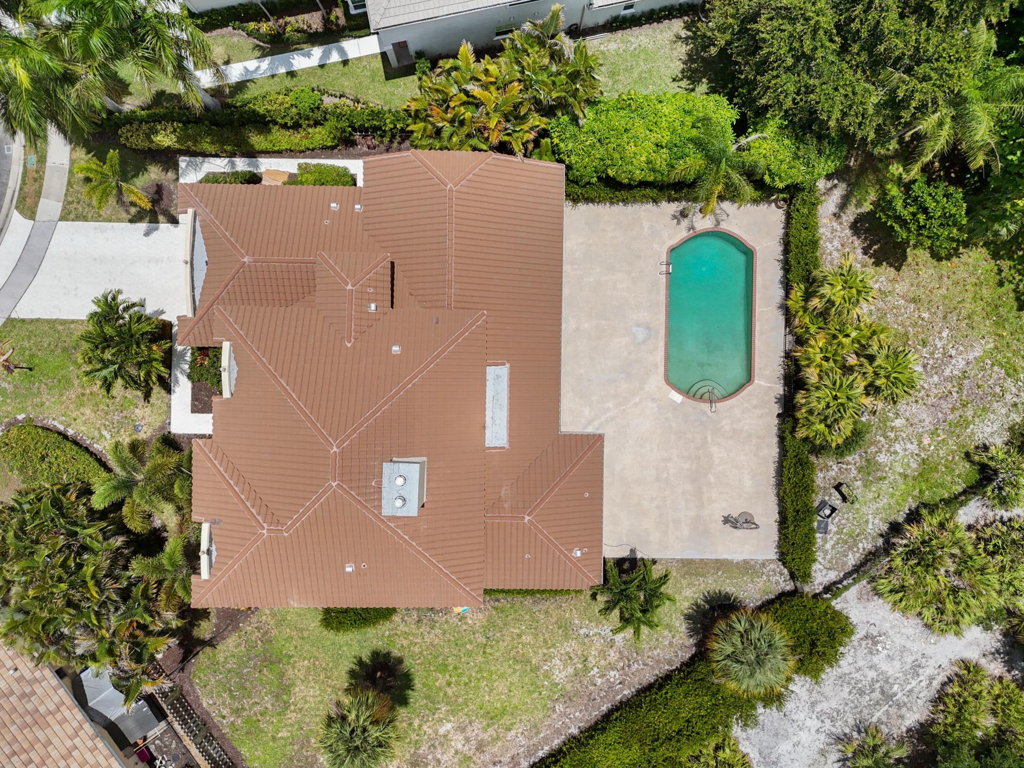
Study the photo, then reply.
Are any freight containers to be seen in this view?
No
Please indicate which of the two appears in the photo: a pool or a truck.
pool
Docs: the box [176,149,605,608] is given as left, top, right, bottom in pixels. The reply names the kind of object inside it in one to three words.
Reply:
house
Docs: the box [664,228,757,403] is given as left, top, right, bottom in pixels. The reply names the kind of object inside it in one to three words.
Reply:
swimming pool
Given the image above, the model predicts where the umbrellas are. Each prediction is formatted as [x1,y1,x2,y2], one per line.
[722,513,759,529]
